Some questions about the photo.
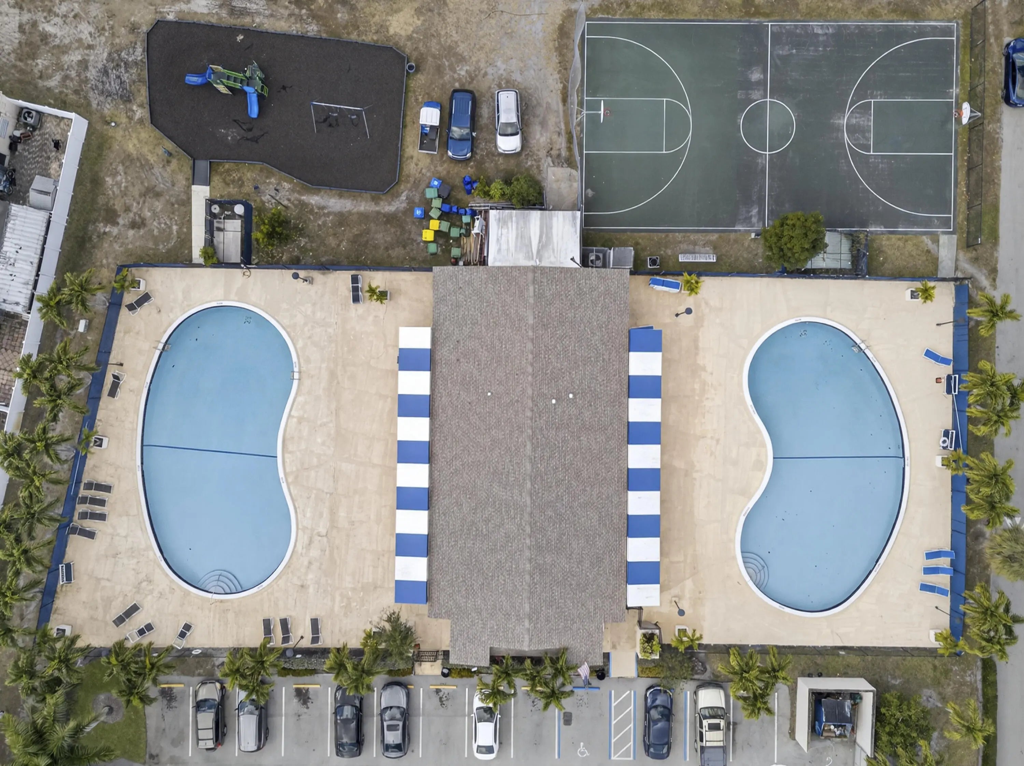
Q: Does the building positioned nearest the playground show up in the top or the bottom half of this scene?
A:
top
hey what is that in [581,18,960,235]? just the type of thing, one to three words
basketball court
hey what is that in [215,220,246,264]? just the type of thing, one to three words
building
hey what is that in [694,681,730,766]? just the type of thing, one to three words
truck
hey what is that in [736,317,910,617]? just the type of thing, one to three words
swimming pool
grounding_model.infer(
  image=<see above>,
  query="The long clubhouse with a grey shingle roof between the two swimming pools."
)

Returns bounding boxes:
[395,266,662,666]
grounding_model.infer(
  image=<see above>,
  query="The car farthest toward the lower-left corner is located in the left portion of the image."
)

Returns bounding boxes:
[192,680,229,752]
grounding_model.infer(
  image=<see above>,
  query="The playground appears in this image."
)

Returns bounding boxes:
[144,18,407,194]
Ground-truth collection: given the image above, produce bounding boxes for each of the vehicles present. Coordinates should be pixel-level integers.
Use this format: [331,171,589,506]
[234,682,271,756]
[493,87,525,155]
[377,681,411,759]
[470,686,502,761]
[192,680,229,752]
[444,86,477,161]
[1003,40,1024,108]
[332,686,365,760]
[416,99,444,156]
[694,681,730,766]
[642,683,676,760]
